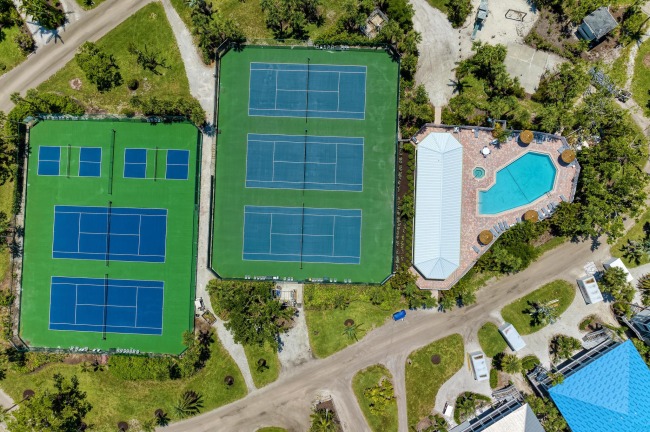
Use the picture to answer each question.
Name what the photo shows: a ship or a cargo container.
cargo container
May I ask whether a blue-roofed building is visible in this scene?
Yes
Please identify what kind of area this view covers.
sports ground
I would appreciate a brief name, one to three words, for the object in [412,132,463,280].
building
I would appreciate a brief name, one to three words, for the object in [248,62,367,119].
tennis court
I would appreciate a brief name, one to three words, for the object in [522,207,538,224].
umbrella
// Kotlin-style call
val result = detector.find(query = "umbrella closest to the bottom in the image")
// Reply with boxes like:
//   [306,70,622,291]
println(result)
[477,229,493,245]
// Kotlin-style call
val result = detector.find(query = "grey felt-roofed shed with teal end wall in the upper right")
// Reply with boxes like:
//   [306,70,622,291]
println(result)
[573,4,620,46]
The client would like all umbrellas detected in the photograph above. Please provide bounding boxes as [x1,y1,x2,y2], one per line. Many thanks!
[517,129,534,145]
[522,207,538,224]
[559,148,575,164]
[477,229,493,245]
